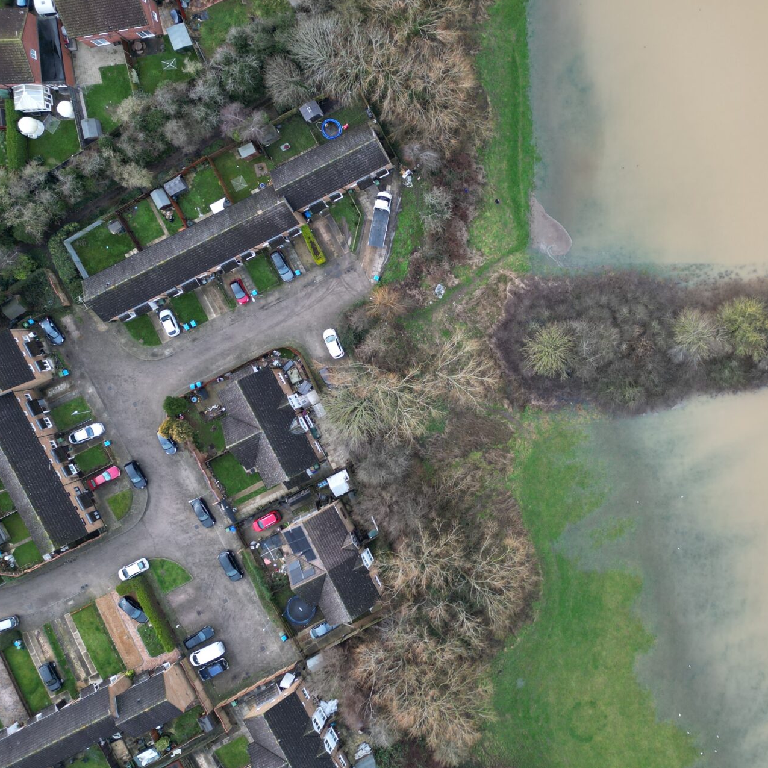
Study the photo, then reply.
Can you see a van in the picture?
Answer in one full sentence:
Yes, there's a van here.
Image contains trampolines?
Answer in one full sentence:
Yes, you can see a trampoline in this photo.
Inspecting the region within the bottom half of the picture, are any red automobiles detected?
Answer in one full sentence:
Yes, you'll find a red automobile within the bottom half of the picture.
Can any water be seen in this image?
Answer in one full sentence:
Yes, the picture does contain water.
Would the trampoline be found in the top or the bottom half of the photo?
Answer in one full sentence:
The bottom half of the photo is where the trampoline is.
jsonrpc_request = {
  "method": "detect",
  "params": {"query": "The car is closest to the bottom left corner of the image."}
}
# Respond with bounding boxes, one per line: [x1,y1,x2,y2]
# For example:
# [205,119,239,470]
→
[38,662,65,692]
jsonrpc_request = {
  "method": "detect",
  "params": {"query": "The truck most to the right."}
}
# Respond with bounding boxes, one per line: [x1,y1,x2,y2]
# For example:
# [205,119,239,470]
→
[368,192,392,248]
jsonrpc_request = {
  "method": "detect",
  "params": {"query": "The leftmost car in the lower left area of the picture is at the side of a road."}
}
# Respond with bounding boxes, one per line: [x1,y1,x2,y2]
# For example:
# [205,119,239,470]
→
[0,613,22,633]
